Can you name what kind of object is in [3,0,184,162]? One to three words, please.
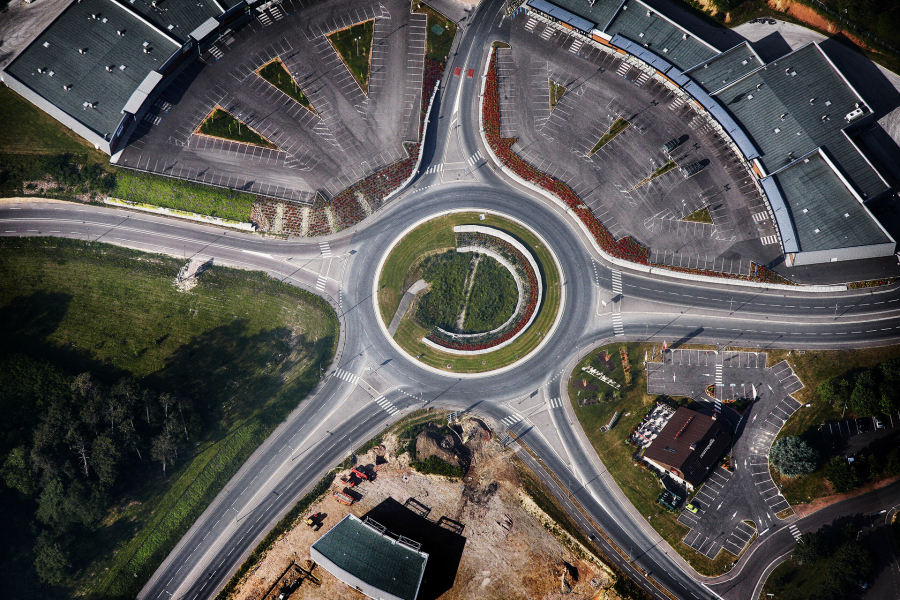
building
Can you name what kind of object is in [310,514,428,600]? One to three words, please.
building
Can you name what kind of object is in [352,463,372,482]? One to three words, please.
work vehicle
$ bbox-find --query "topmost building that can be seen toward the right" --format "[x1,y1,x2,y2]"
[526,0,627,44]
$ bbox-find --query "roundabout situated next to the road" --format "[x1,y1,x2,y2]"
[339,181,599,409]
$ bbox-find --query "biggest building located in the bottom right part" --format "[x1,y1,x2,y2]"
[643,406,733,487]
